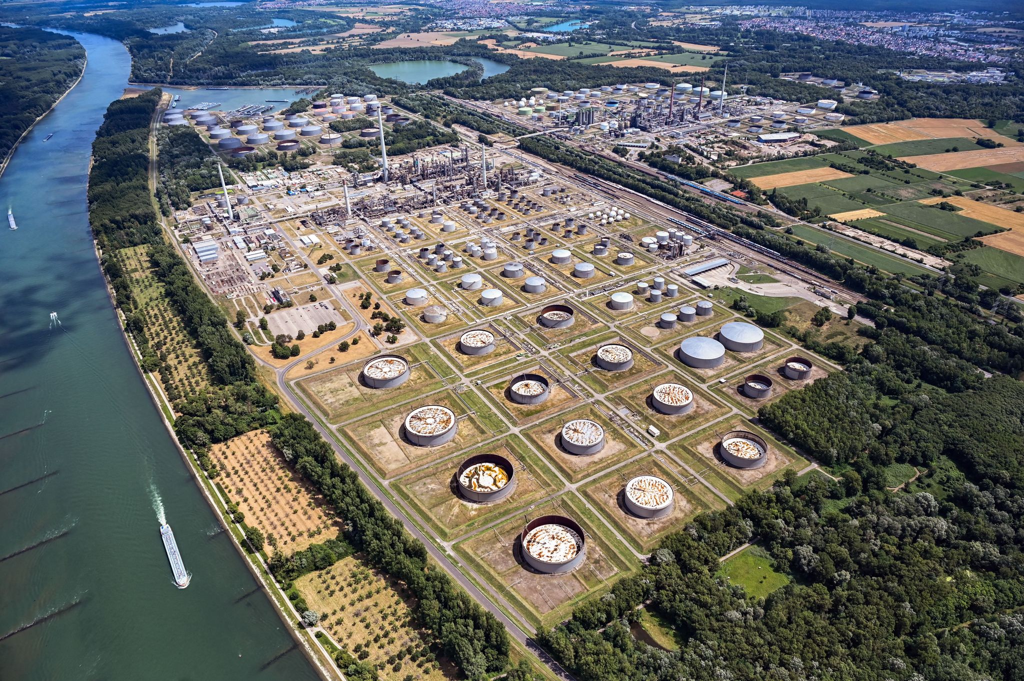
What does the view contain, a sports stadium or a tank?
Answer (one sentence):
Looking from above, you can make out a tank.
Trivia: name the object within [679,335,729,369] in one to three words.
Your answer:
storage tank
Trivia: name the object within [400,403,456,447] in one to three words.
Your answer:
storage tank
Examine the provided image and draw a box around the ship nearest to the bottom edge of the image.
[161,524,188,588]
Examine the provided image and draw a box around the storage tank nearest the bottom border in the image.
[519,514,589,576]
